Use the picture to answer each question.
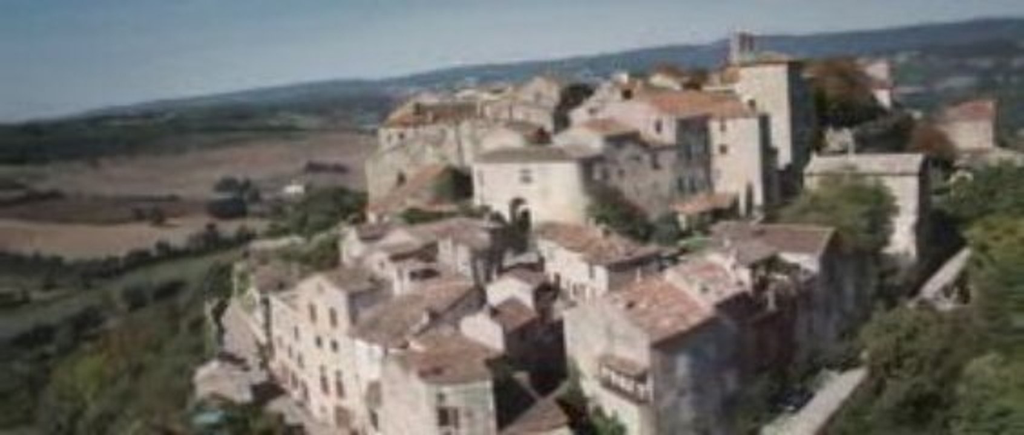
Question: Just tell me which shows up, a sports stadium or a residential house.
residential house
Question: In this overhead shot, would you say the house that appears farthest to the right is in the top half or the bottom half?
top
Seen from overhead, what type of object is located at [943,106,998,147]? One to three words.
house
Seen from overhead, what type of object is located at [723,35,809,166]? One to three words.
building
